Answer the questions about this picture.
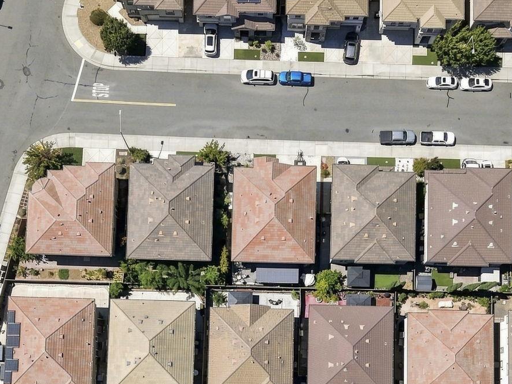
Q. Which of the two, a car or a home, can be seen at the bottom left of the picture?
home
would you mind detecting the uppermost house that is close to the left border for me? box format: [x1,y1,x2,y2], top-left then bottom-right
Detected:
[26,161,121,259]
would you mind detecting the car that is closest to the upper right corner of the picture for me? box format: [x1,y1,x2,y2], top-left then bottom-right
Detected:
[460,78,491,93]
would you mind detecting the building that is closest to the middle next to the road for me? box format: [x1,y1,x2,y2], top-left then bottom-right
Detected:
[231,158,318,266]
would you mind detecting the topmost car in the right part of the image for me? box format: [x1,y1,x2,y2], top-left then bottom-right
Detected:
[344,34,360,65]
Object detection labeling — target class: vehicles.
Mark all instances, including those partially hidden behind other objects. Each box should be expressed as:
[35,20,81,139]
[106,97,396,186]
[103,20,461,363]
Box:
[426,75,457,92]
[479,155,495,167]
[336,152,351,164]
[418,131,456,146]
[344,34,360,65]
[241,70,273,86]
[203,26,218,57]
[378,130,416,146]
[277,71,315,87]
[463,153,478,171]
[460,78,491,93]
